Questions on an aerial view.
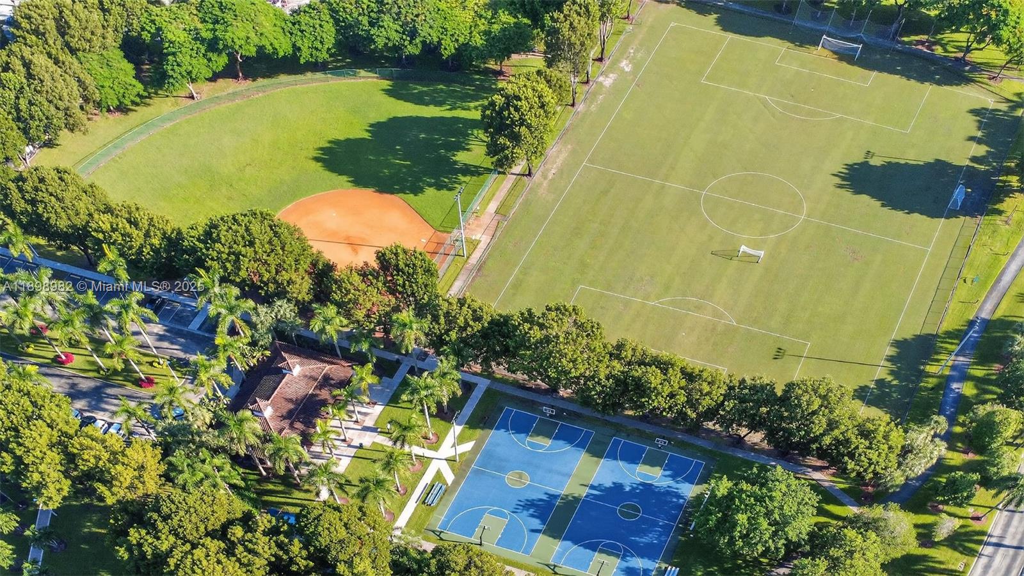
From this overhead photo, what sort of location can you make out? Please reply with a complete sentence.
The area seen from above is a sports ground.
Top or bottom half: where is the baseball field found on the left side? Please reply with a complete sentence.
The baseball field found on the left side is in the top half of the image.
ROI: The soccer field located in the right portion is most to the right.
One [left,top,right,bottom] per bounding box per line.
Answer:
[461,0,1024,478]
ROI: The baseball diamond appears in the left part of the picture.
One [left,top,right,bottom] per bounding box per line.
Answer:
[75,76,515,299]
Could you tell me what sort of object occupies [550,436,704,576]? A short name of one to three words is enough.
basketball court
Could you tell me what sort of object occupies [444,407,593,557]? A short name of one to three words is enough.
basketball court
